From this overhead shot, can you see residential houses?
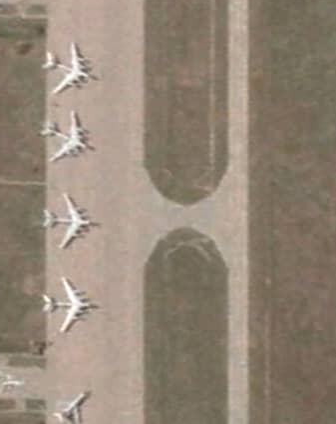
No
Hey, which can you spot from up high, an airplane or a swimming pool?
airplane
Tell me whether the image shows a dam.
No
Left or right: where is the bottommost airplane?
left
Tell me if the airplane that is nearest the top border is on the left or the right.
left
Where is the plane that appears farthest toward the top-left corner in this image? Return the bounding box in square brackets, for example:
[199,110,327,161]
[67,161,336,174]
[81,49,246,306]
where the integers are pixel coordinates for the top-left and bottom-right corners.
[46,42,95,93]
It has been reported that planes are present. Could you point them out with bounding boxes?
[45,193,98,247]
[44,111,93,161]
[52,393,87,424]
[44,278,97,332]
[46,42,95,93]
